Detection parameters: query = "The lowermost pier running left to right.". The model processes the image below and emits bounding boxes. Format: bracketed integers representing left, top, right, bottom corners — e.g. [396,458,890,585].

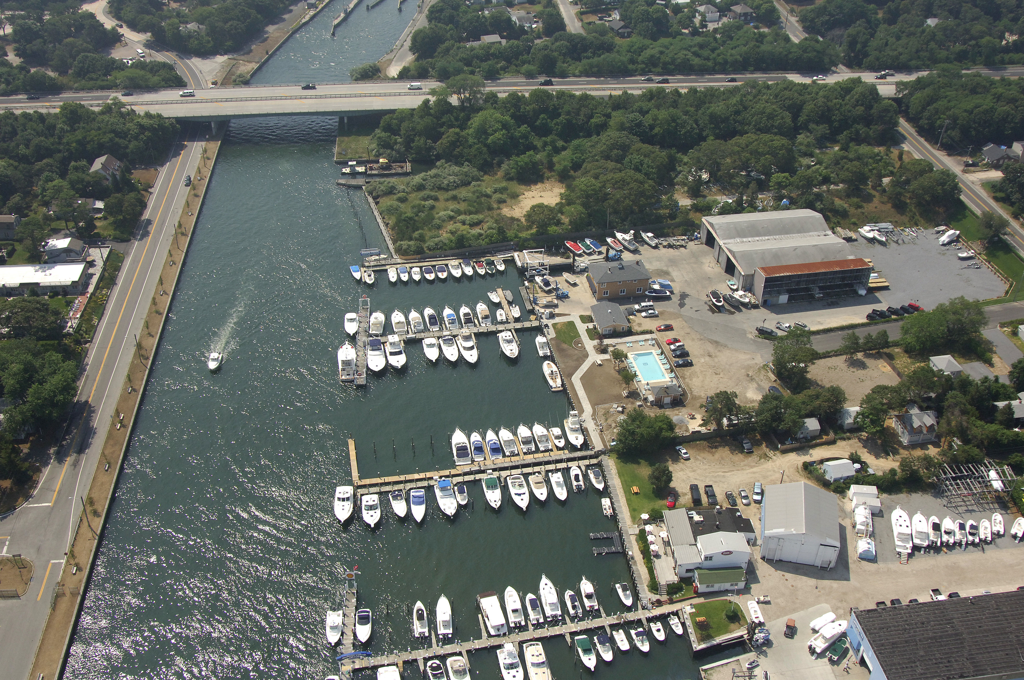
[352,600,653,676]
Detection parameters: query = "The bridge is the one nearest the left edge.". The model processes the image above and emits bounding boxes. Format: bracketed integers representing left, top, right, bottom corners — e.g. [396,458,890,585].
[127,76,411,136]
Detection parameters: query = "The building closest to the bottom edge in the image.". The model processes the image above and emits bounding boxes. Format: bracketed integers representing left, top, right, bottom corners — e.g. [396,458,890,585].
[844,588,1024,680]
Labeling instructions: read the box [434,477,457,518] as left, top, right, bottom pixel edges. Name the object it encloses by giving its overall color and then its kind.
white boat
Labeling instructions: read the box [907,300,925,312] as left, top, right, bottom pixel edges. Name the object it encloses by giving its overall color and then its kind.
red vehicle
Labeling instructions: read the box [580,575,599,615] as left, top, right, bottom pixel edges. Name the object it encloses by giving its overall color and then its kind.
white boat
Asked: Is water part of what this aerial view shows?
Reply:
Yes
